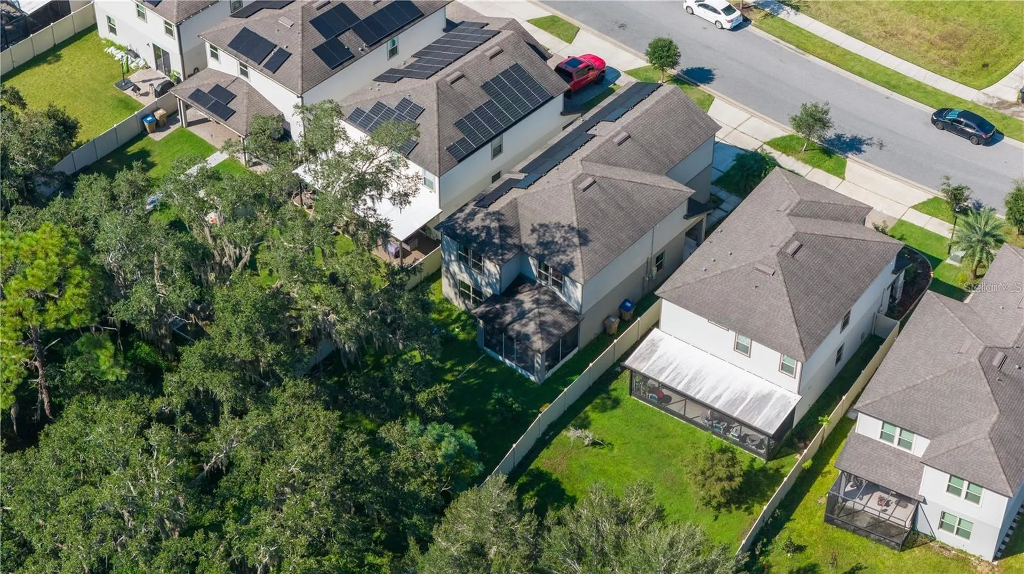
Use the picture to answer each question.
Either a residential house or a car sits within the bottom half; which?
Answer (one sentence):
Visible within the bottom half is a residential house.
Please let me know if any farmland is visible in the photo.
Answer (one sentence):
No, there is no farmland in the image.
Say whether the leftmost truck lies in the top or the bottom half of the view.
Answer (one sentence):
The leftmost truck is in the top half of the image.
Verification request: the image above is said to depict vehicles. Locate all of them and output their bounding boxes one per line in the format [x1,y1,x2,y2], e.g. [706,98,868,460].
[683,0,741,28]
[930,108,997,145]
[559,57,609,100]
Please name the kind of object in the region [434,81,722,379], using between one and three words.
house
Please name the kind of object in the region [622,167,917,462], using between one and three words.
house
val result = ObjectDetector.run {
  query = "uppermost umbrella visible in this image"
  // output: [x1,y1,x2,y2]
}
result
[112,56,135,90]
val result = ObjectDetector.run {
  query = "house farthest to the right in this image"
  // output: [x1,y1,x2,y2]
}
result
[821,239,1024,557]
